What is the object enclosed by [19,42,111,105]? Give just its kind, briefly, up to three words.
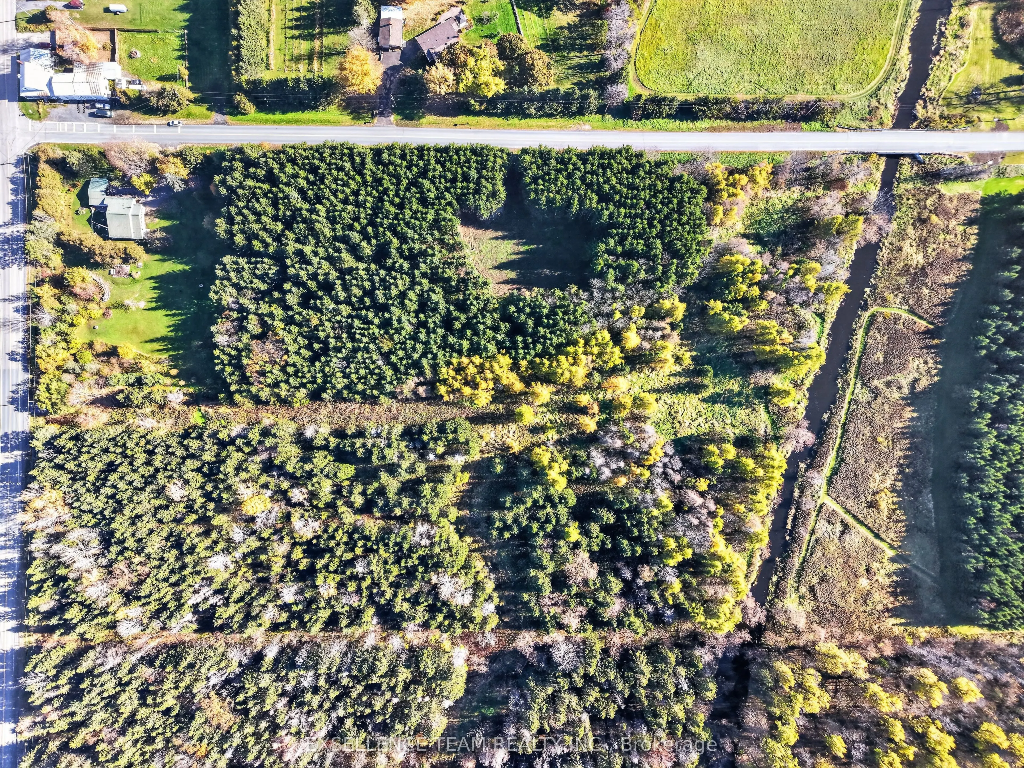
house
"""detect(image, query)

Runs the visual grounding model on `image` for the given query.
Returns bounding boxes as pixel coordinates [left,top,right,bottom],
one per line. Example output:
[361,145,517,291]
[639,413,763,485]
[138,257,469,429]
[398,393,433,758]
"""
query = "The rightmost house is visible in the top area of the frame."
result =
[415,14,462,66]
